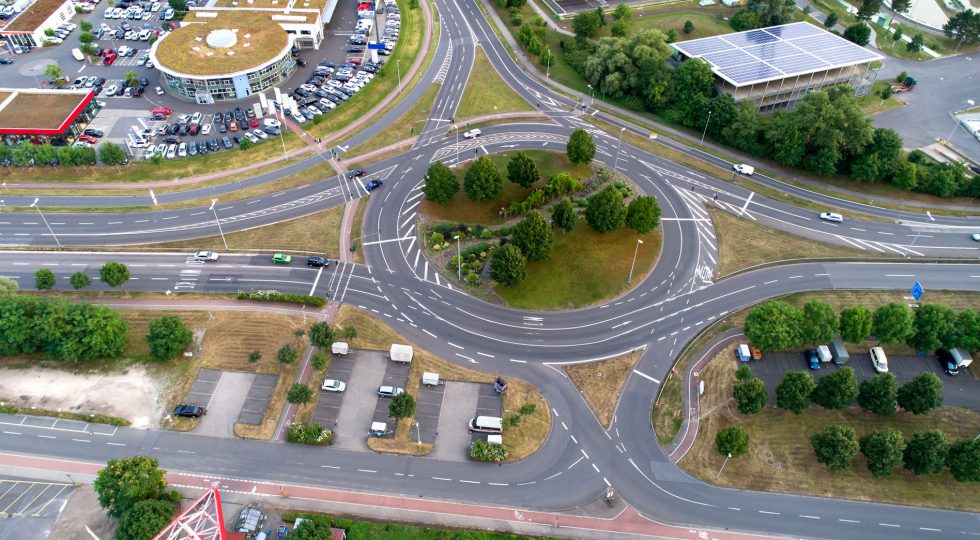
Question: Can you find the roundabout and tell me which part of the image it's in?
center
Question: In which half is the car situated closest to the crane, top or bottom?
bottom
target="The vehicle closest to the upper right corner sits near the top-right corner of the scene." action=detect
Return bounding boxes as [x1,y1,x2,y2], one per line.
[894,79,918,94]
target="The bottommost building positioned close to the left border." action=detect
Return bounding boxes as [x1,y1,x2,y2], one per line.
[0,90,98,148]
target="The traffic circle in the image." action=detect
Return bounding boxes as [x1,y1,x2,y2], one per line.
[362,124,719,358]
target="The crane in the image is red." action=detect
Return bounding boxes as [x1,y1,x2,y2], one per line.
[151,483,233,540]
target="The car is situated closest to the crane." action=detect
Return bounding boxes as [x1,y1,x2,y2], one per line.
[231,501,252,531]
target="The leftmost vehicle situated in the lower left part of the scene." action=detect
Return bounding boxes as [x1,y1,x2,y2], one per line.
[175,404,204,418]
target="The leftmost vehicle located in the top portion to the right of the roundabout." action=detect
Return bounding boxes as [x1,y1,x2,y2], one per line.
[731,162,754,175]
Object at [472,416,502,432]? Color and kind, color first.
white vehicle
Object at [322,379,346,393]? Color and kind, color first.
white vehicle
